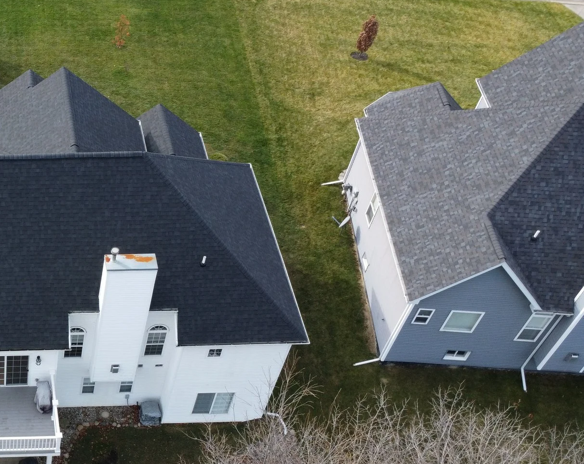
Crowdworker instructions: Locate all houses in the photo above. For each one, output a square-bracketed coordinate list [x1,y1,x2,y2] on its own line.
[0,66,313,424]
[343,26,584,387]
